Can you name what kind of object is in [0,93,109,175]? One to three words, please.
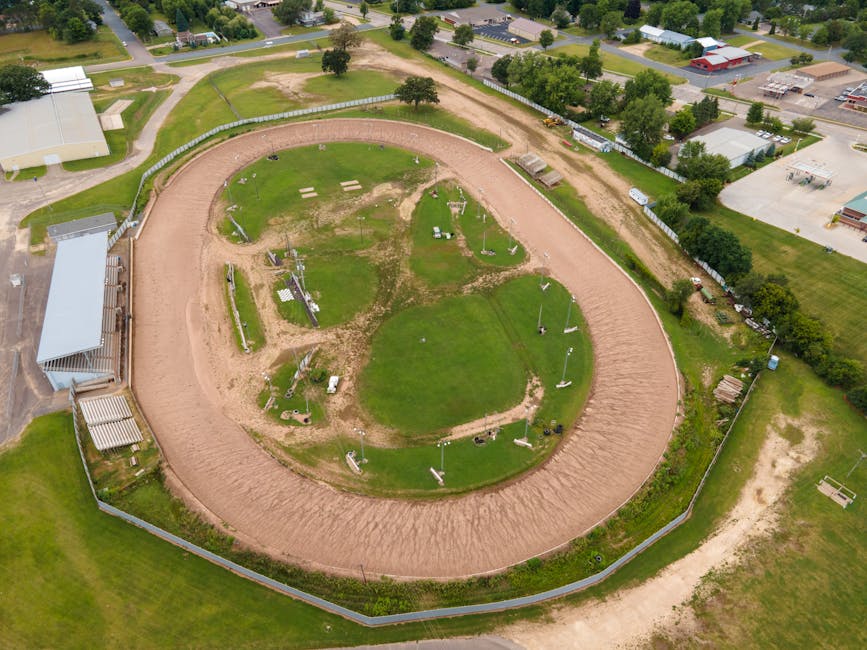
building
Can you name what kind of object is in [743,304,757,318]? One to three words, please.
car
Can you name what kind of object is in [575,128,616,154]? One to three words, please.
shed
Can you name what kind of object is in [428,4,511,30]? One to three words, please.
building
